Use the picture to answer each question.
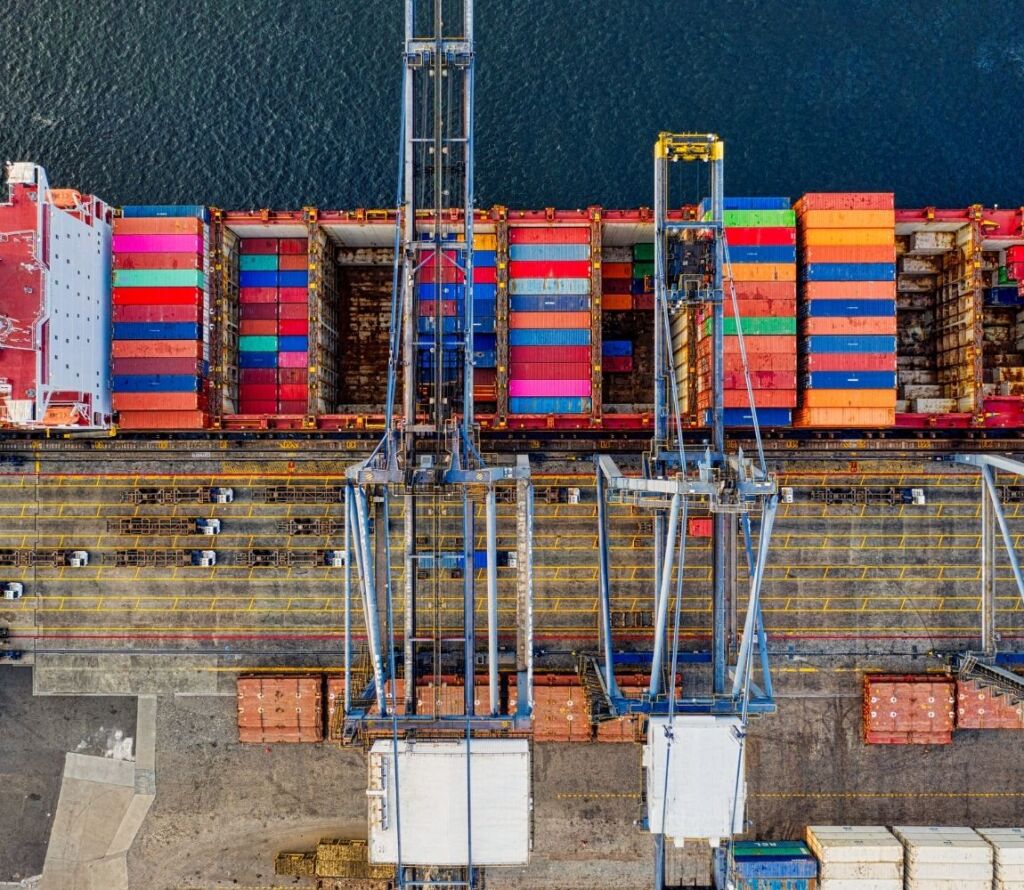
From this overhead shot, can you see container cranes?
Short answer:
Yes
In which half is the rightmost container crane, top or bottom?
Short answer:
bottom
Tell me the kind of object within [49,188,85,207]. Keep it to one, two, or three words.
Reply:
boat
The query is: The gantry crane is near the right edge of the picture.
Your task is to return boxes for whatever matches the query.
[909,454,1024,713]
